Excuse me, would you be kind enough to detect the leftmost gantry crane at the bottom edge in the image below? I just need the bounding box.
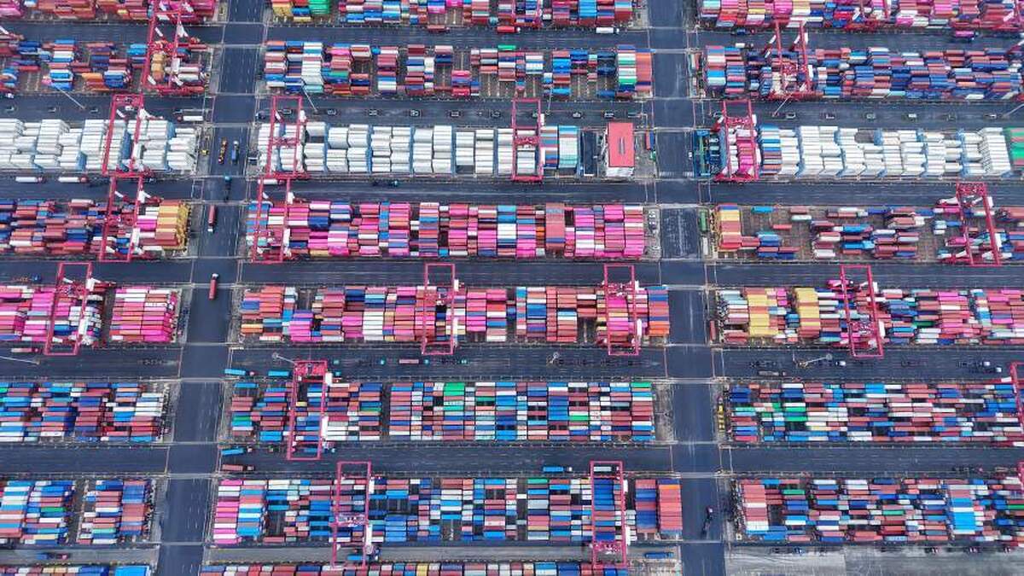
[331,462,382,567]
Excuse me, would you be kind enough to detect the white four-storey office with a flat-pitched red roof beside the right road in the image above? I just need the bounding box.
[607,122,634,174]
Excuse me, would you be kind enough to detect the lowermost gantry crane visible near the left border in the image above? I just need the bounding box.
[42,262,109,354]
